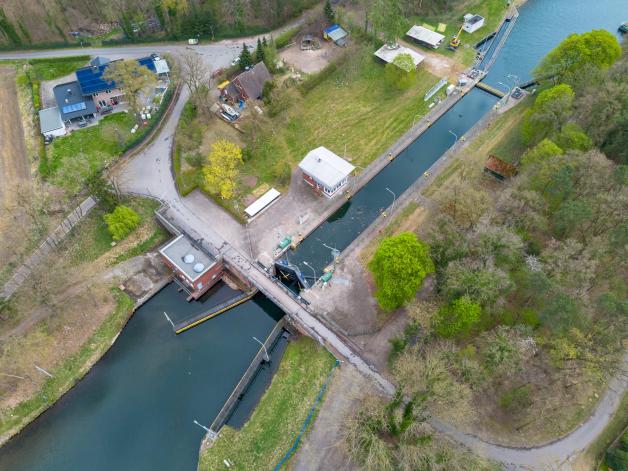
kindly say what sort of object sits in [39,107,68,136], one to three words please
building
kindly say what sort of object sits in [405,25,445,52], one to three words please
shed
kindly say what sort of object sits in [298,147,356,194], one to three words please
building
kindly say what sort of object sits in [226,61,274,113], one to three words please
house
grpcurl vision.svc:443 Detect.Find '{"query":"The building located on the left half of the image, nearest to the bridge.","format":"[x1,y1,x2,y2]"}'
[159,234,223,302]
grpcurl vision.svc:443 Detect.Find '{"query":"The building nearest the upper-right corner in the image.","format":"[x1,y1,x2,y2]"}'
[448,15,484,37]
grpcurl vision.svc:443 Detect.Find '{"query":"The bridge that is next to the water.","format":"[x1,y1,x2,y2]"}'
[221,248,314,335]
